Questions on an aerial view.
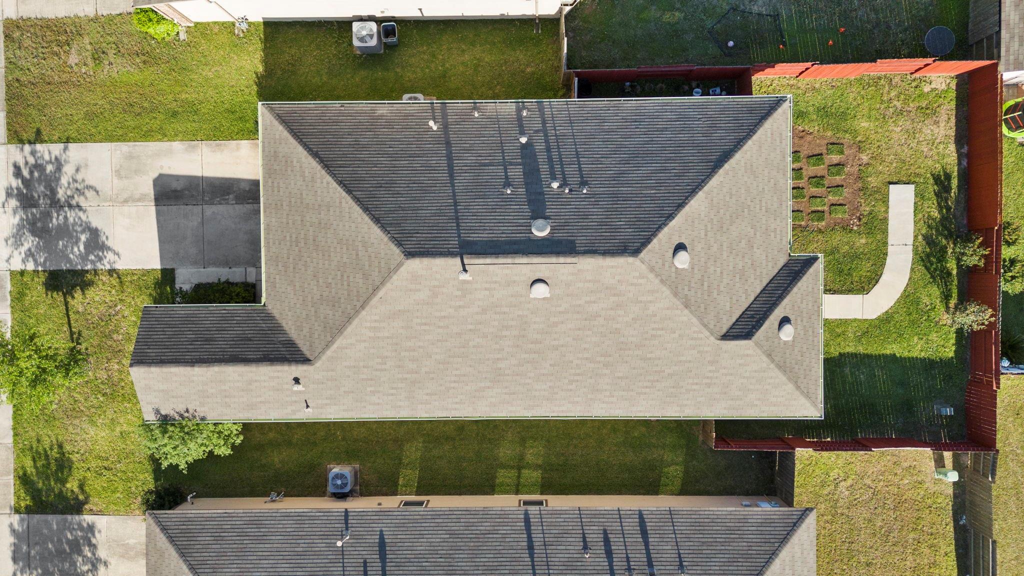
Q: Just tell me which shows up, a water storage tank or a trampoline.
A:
trampoline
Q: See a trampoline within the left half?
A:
No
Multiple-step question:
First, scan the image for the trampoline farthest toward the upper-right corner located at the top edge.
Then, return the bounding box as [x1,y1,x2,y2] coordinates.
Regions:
[922,26,955,57]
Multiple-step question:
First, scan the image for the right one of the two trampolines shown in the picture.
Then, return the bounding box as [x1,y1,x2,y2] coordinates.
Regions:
[1002,97,1024,141]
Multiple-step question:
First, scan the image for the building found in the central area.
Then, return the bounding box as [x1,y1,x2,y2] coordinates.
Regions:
[129,93,825,423]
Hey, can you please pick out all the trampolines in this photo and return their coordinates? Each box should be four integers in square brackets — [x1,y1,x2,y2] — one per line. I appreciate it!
[1002,97,1024,141]
[922,26,955,57]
